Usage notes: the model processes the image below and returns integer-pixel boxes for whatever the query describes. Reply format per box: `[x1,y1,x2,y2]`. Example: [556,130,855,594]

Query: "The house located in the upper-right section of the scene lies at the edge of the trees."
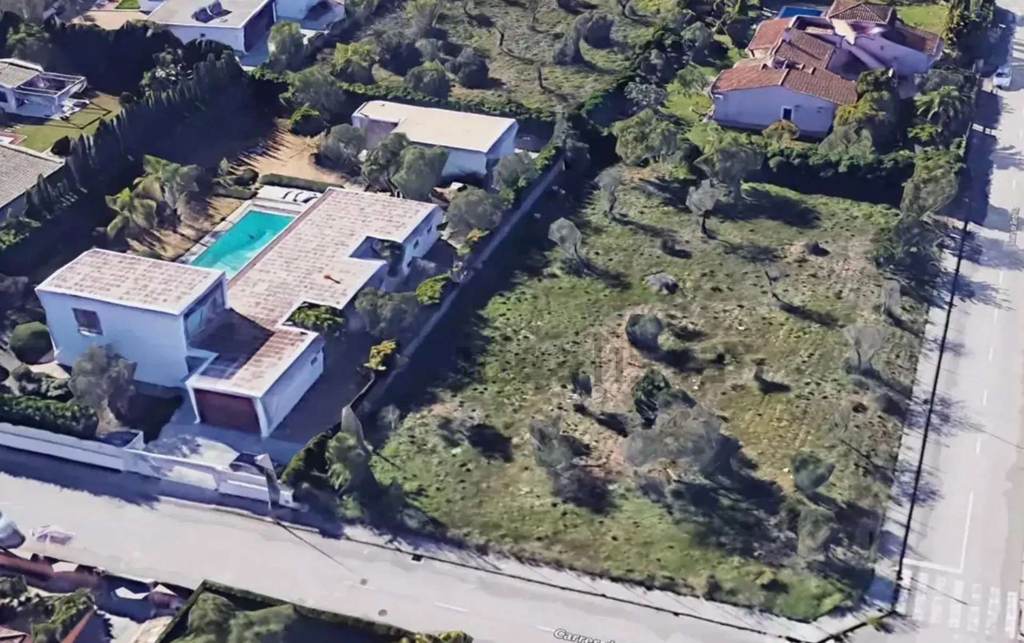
[714,1,943,133]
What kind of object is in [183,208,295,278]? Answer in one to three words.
swimming pool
